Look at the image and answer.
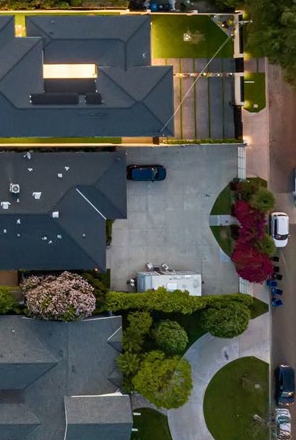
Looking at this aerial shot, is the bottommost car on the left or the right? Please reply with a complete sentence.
The bottommost car is on the right side of the image.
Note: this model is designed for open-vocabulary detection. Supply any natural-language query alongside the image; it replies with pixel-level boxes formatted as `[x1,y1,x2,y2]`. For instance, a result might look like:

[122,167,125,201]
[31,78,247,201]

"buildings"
[0,14,174,140]
[0,311,141,440]
[0,151,127,271]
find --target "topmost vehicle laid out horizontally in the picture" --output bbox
[126,162,166,182]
